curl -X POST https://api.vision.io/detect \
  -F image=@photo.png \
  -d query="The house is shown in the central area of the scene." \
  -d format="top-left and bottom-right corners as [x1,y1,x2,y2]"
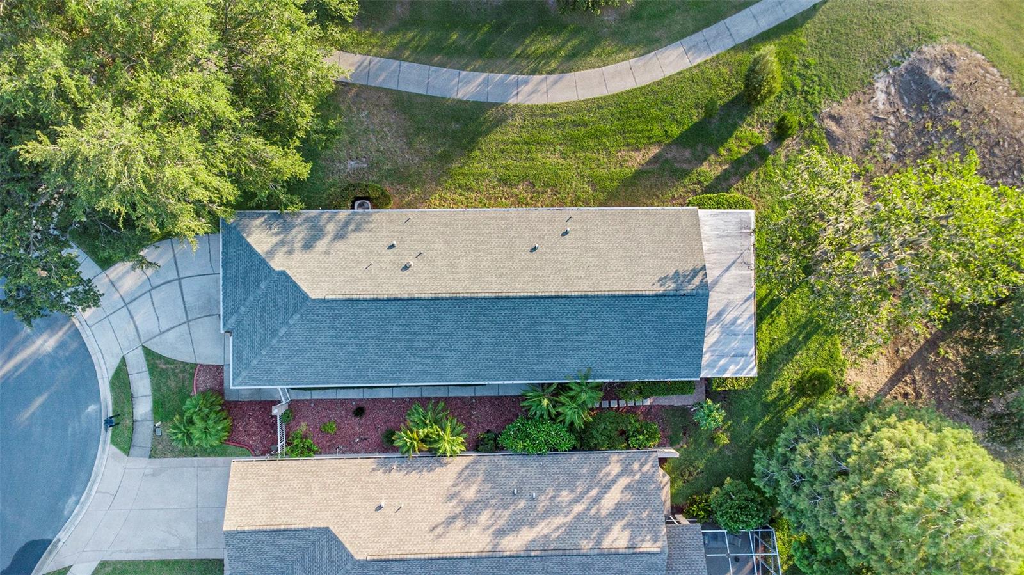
[217,204,759,390]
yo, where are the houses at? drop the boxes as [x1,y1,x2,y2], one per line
[223,448,710,575]
[217,204,759,390]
